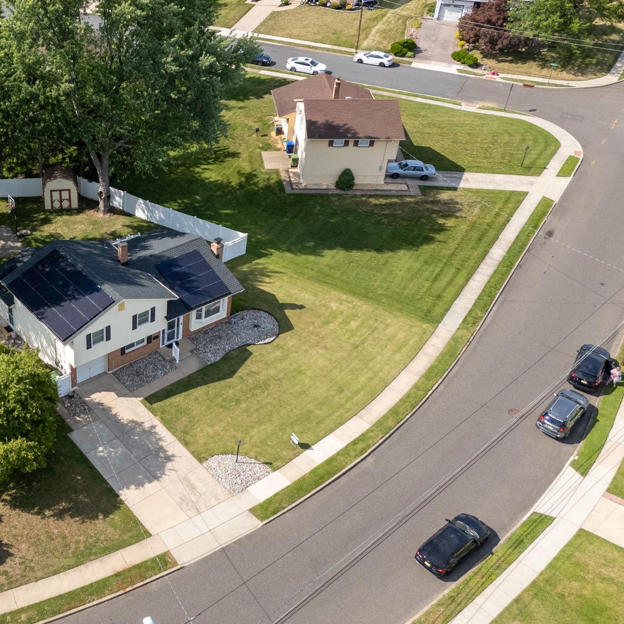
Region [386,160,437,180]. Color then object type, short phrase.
blue car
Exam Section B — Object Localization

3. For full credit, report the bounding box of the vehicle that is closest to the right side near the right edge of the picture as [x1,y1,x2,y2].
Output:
[573,350,624,394]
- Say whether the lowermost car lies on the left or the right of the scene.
right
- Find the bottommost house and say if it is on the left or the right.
left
